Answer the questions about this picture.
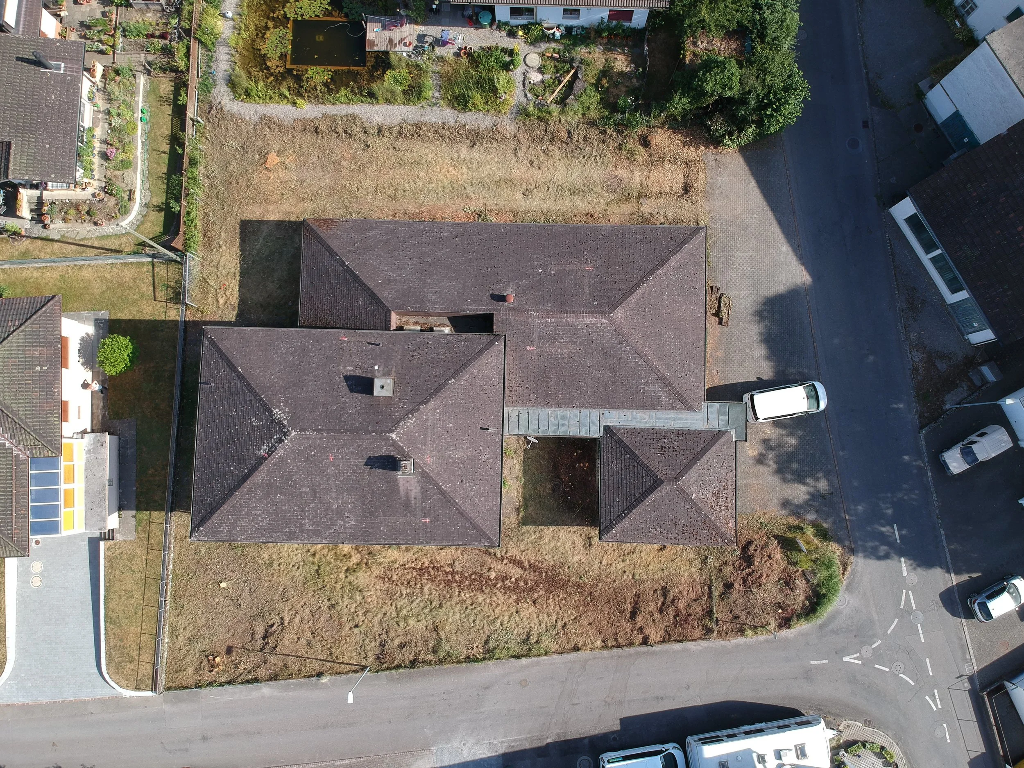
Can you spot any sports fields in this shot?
No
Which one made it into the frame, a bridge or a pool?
pool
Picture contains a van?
Yes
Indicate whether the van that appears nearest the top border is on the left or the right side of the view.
right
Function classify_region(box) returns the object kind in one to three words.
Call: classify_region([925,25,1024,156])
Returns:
building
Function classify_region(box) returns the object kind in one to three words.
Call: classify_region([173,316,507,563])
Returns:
house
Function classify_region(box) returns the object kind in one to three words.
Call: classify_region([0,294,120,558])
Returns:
house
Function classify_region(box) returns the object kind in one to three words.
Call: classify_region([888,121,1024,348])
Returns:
barn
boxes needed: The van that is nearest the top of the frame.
[742,379,828,424]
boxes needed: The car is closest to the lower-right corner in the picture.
[968,566,1024,624]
